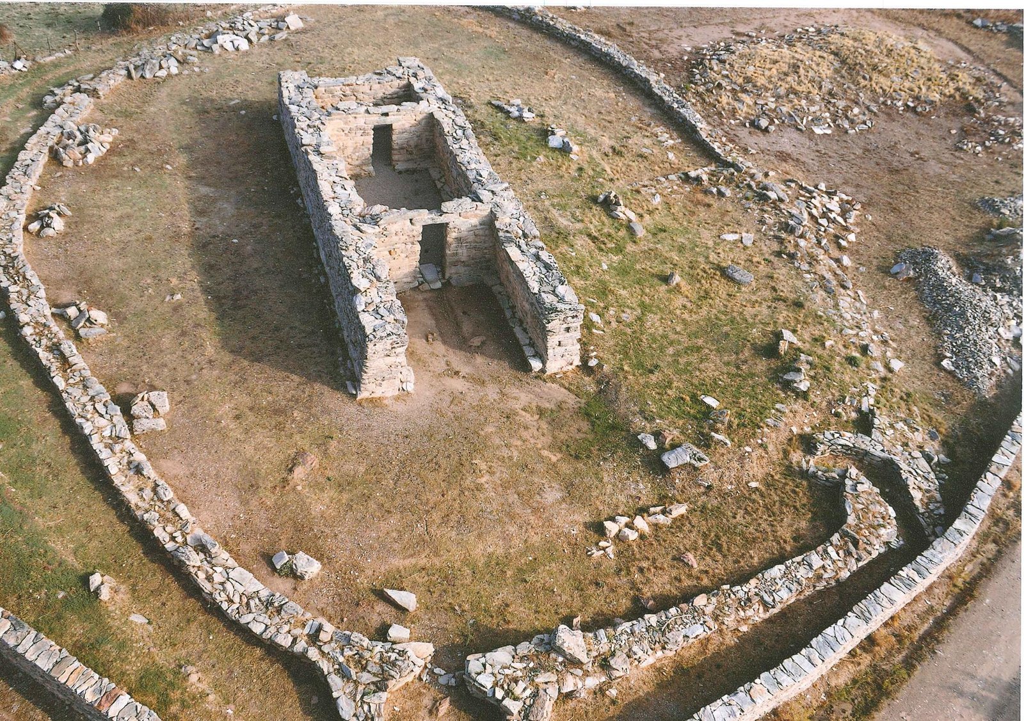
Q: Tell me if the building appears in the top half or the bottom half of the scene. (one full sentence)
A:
The top half of the photo is where the building is.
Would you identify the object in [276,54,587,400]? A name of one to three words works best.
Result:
building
